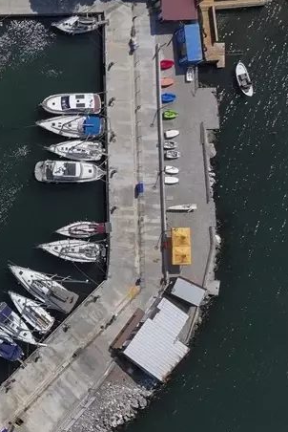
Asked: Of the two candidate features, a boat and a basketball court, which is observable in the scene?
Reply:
boat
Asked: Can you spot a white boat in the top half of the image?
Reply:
Yes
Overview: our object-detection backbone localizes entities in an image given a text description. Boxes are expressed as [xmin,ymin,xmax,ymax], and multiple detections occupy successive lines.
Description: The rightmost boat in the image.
[236,62,255,98]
